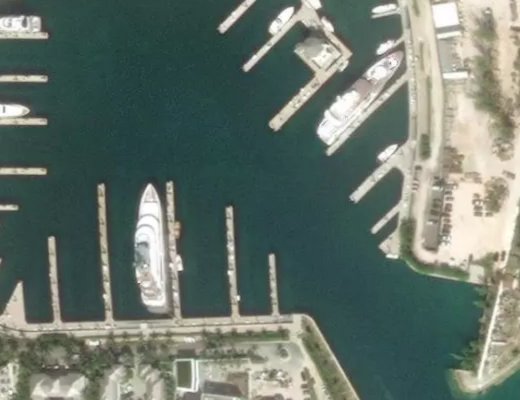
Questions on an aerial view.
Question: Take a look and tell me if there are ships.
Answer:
Yes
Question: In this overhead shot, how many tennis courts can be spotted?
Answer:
0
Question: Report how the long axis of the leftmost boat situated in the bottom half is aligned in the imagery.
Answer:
vertically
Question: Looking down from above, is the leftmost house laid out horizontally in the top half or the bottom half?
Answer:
bottom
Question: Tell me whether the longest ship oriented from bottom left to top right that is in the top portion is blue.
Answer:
No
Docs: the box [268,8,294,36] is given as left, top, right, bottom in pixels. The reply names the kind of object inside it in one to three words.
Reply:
boat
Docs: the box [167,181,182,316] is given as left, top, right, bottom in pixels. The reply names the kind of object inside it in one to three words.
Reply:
pier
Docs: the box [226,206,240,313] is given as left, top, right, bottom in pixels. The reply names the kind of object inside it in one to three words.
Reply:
pier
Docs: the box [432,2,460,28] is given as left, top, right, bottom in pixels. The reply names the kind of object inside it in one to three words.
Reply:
building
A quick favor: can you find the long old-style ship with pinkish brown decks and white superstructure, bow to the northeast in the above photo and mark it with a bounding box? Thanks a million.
[316,51,401,145]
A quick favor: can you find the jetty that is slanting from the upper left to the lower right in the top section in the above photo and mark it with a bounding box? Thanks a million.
[295,0,352,54]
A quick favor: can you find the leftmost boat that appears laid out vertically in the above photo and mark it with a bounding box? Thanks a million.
[137,183,167,312]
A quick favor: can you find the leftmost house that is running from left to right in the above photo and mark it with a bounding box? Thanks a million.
[26,370,92,400]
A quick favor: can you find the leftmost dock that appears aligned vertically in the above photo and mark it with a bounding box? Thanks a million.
[48,236,61,319]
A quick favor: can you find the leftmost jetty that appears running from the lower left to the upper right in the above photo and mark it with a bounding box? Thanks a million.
[218,0,259,35]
